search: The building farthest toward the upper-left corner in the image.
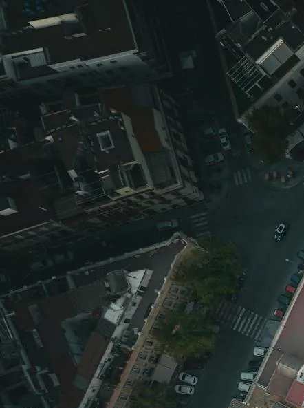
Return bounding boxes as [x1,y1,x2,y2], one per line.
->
[0,0,174,108]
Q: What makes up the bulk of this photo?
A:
buildings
